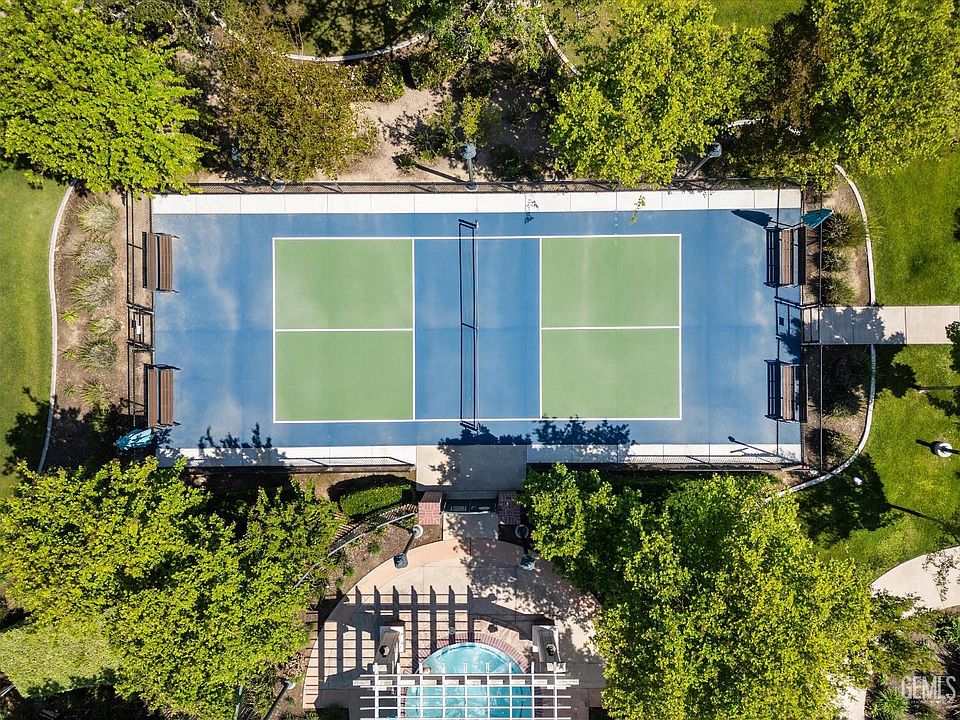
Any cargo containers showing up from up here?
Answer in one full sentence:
No, there appears to be no cargo container in this shot.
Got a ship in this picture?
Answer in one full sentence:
No, there's no ship here.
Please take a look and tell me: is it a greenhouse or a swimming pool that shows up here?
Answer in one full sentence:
Looking from above, you can make out a swimming pool.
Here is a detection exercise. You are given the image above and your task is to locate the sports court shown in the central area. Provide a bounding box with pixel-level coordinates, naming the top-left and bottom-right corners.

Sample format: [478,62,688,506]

[153,209,803,447]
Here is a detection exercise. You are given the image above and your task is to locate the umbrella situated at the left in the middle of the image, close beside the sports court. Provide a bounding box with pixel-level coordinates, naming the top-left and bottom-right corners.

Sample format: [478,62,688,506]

[116,425,168,446]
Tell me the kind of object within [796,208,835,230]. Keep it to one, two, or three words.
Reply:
umbrella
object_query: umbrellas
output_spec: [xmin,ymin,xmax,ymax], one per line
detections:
[116,425,168,446]
[796,208,835,230]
